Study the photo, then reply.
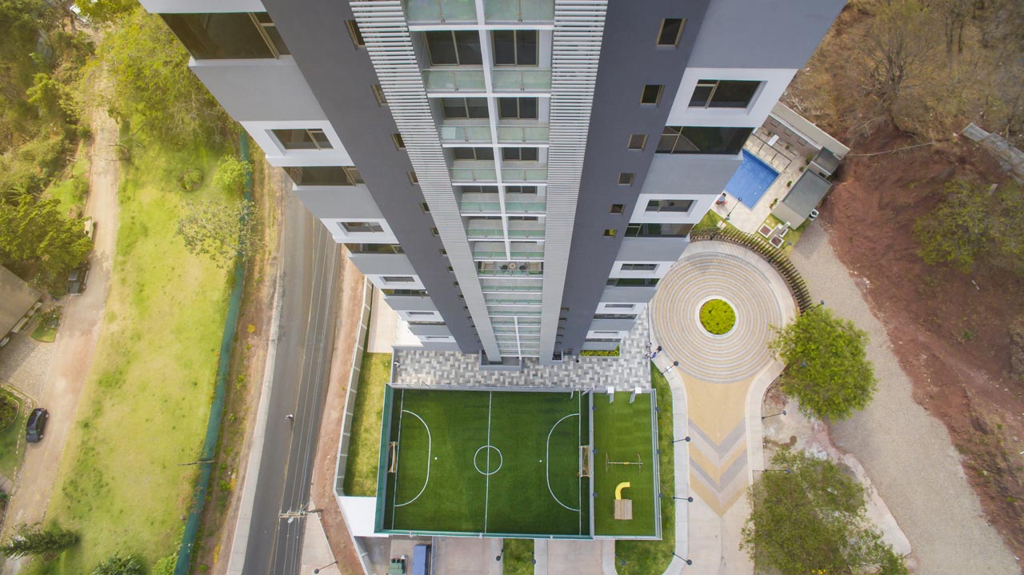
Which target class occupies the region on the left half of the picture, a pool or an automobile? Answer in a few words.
automobile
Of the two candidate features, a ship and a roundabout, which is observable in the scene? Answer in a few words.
roundabout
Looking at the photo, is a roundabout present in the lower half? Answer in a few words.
Yes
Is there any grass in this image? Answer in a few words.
Yes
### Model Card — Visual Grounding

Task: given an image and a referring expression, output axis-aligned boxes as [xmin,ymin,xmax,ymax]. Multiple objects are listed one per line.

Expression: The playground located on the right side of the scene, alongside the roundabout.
[593,392,656,537]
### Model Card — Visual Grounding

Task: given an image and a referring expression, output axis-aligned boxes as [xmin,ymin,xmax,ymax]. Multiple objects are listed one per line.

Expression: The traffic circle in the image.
[640,240,800,514]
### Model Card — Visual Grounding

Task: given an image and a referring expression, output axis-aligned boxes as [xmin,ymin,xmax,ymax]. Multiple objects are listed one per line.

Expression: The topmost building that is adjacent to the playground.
[138,0,838,362]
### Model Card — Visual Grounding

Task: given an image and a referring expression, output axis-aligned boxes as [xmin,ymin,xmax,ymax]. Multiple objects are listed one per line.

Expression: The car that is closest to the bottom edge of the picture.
[21,408,47,442]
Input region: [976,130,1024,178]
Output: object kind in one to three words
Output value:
shed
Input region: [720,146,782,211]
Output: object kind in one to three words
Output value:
swimming pool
